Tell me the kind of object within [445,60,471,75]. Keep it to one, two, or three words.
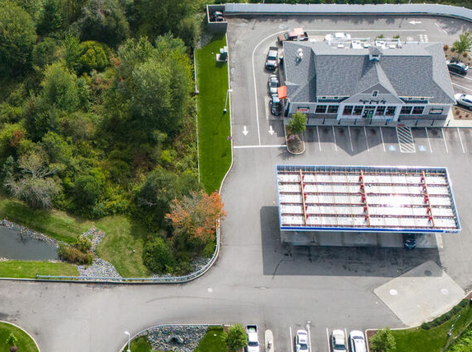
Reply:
car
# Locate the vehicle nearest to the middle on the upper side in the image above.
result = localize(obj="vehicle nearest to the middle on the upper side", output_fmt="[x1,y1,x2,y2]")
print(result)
[270,96,283,115]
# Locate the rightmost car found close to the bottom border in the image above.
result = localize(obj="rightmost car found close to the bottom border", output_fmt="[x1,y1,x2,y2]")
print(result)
[350,332,367,352]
